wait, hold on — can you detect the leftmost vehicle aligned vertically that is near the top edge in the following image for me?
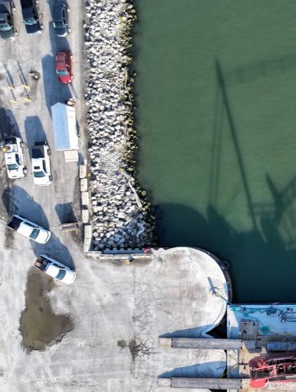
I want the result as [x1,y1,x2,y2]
[0,0,20,43]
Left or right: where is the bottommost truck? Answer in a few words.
left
